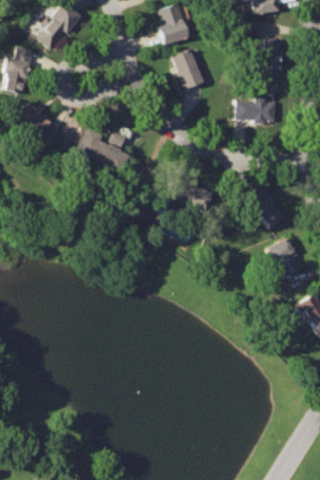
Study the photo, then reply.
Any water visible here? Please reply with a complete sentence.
Yes, there is water in the image.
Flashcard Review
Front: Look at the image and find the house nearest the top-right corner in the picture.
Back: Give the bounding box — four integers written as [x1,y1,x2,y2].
[249,0,278,18]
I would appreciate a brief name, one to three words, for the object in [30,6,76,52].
house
